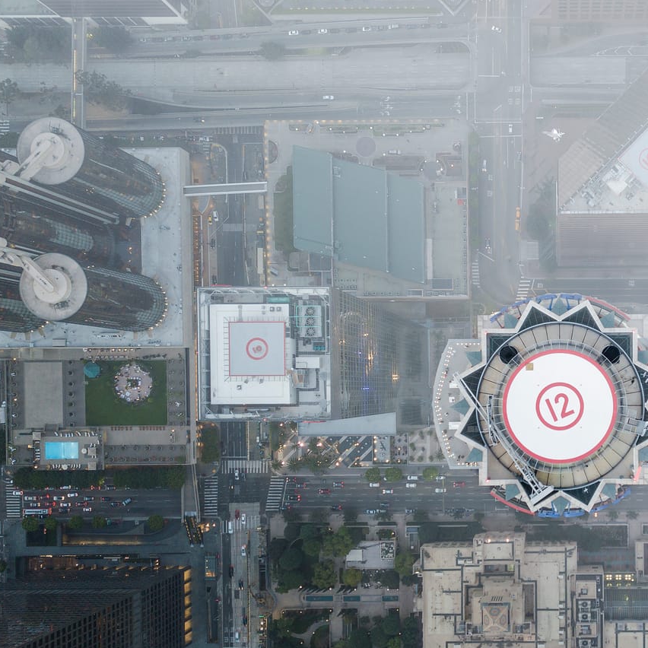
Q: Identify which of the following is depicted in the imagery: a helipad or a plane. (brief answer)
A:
helipad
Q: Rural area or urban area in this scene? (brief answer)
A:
urban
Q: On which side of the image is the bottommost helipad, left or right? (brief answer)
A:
right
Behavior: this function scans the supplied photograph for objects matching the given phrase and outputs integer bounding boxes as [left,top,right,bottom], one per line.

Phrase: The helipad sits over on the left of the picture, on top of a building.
[225,319,289,380]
